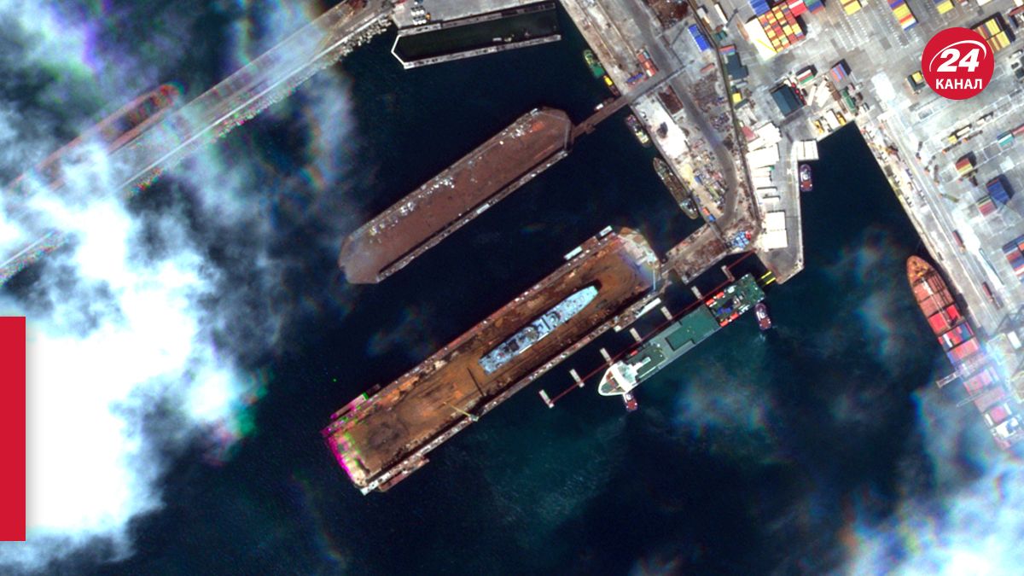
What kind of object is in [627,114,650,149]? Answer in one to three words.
boat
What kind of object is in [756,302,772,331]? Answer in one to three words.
boat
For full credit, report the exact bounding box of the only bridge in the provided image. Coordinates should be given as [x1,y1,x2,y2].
[569,95,634,142]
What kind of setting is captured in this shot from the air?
port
